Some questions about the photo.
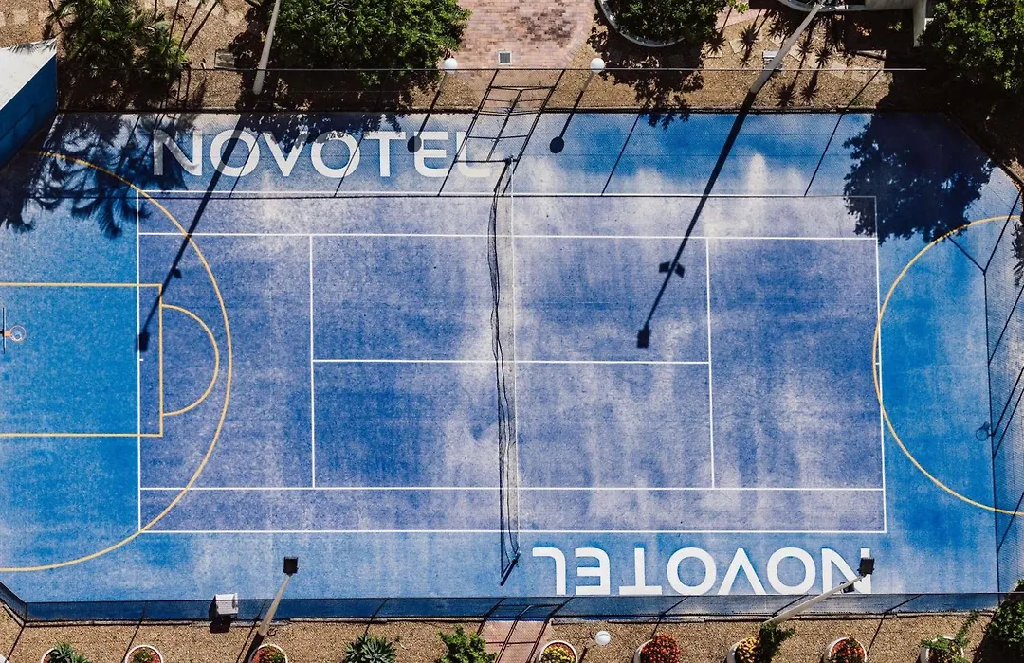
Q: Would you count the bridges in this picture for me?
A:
zero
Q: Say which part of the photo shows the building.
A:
top left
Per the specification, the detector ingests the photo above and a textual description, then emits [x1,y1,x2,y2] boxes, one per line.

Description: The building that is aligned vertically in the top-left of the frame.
[0,36,61,169]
